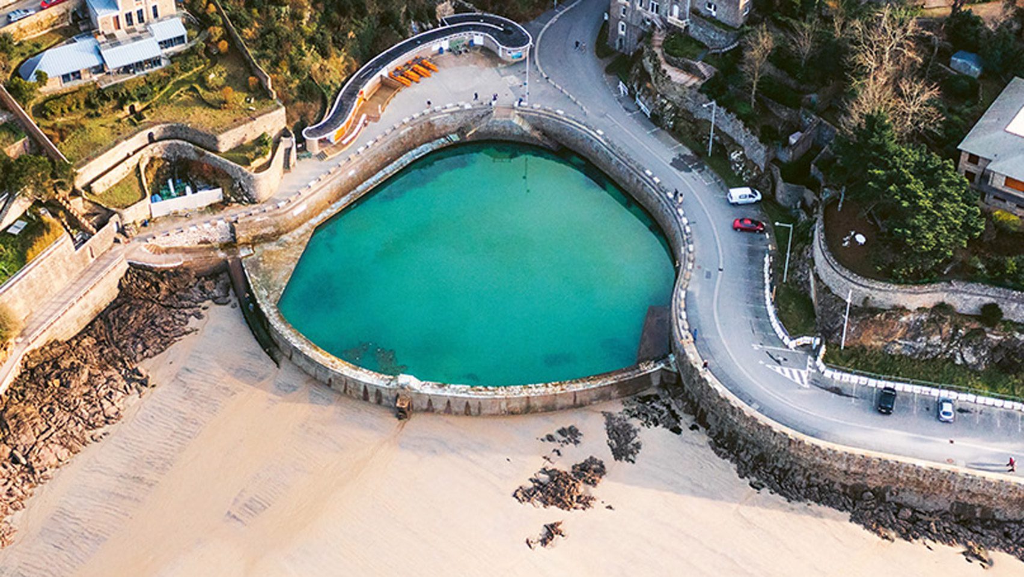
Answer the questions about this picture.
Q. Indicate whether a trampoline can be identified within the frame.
No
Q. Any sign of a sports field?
No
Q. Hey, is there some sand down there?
Yes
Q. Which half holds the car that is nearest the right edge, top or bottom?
bottom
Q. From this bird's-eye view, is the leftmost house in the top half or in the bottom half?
top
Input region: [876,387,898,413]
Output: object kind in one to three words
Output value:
car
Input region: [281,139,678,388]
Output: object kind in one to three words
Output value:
swimming pool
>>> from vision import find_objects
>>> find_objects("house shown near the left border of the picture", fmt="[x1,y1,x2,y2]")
[18,0,188,97]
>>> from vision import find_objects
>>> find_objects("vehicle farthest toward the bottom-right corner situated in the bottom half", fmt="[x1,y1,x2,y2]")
[935,396,959,424]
